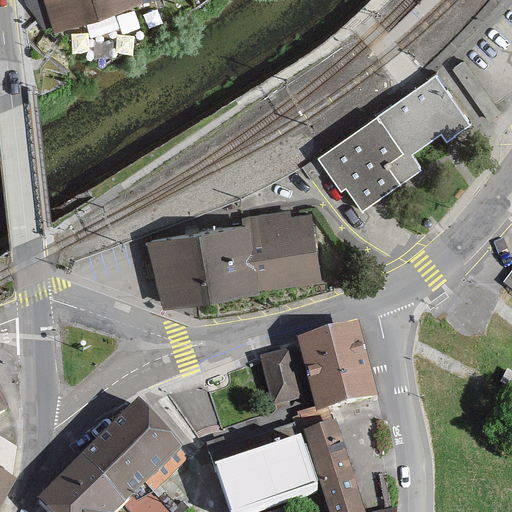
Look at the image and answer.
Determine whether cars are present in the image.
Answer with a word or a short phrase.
Yes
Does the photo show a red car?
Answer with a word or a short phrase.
Yes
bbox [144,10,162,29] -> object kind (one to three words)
umbrella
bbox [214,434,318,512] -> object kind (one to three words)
building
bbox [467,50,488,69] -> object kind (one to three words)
car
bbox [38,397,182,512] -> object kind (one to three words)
house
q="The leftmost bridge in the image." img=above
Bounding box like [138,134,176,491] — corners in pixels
[0,92,52,248]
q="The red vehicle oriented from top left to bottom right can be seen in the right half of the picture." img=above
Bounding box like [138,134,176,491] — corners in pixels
[324,180,342,201]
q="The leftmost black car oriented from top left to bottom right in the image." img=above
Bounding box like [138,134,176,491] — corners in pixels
[289,170,311,192]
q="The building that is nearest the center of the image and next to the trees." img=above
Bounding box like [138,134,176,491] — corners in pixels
[146,206,322,310]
